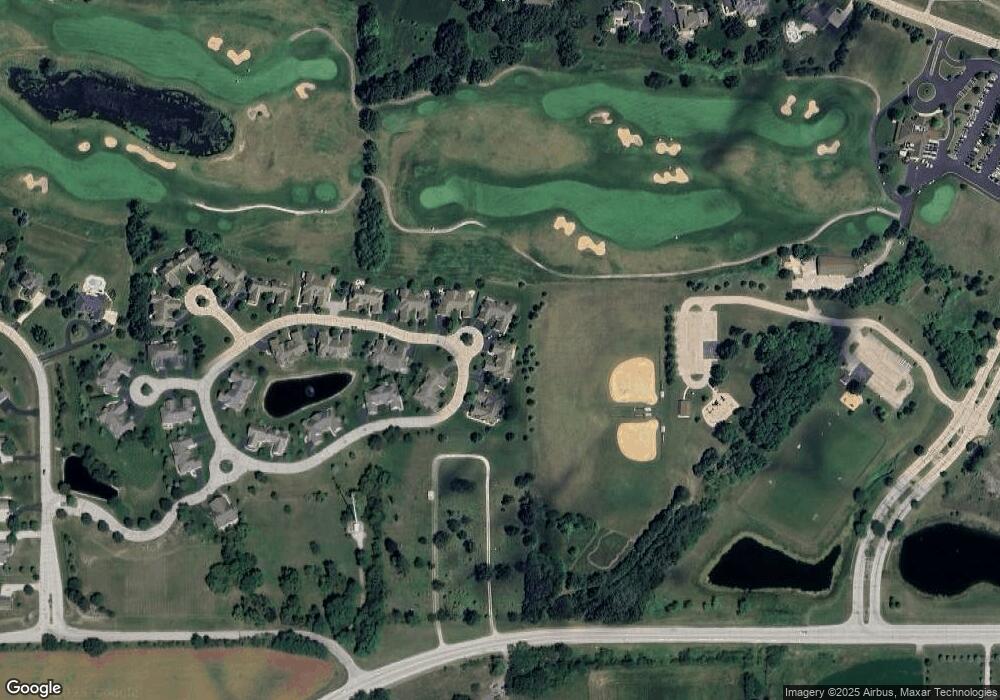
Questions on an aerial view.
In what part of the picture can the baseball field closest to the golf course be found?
center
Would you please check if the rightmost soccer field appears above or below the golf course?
below it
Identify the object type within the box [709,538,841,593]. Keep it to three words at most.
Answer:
pond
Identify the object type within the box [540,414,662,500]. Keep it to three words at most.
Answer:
baseball field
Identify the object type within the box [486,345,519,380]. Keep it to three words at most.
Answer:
house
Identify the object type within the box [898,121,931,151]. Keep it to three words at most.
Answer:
building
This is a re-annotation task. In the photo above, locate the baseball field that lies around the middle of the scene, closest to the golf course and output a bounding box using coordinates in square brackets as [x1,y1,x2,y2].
[540,300,662,408]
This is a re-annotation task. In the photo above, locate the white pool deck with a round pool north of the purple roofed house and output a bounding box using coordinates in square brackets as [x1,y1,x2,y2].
[84,275,106,294]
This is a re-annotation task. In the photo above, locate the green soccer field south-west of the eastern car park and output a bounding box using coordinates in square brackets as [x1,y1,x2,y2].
[748,406,886,534]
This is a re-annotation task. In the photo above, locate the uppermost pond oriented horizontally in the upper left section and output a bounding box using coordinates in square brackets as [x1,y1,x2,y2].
[8,66,236,158]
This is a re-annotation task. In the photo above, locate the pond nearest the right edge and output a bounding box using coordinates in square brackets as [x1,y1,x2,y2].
[898,522,1000,597]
